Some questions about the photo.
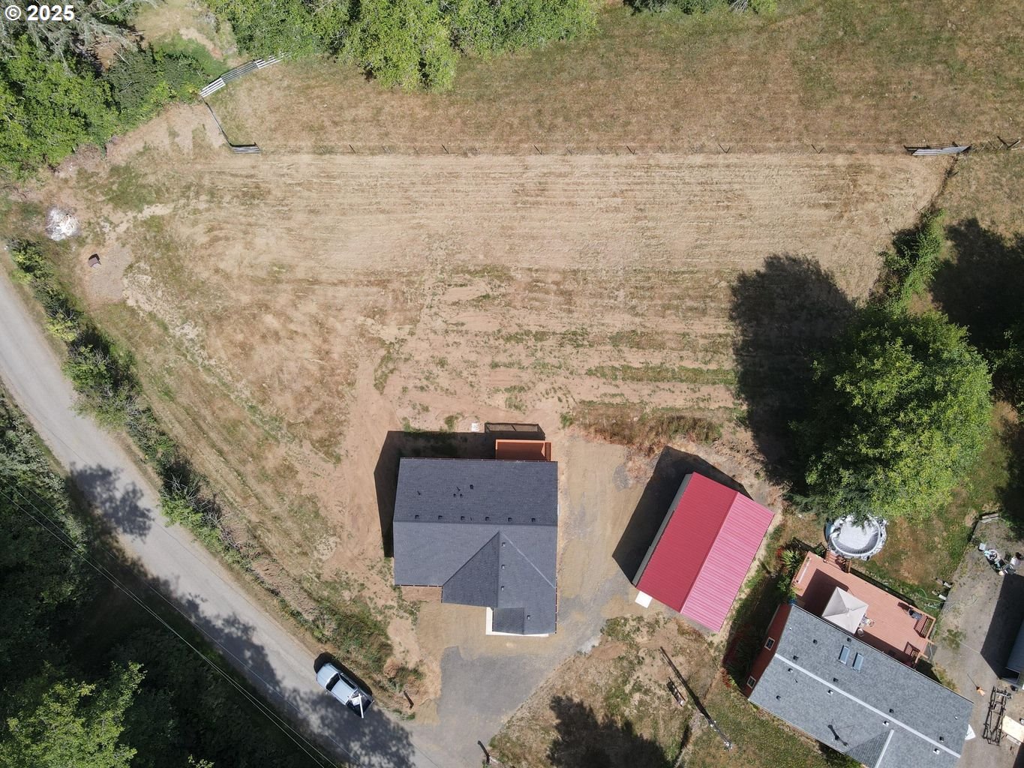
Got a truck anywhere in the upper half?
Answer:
No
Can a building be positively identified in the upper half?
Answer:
No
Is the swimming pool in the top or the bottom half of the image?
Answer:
bottom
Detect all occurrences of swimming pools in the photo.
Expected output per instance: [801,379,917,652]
[821,501,888,572]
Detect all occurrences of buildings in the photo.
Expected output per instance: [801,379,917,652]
[738,600,975,768]
[630,470,777,629]
[394,457,557,638]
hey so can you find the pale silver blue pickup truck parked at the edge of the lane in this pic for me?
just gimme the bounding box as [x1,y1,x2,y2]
[319,662,376,718]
